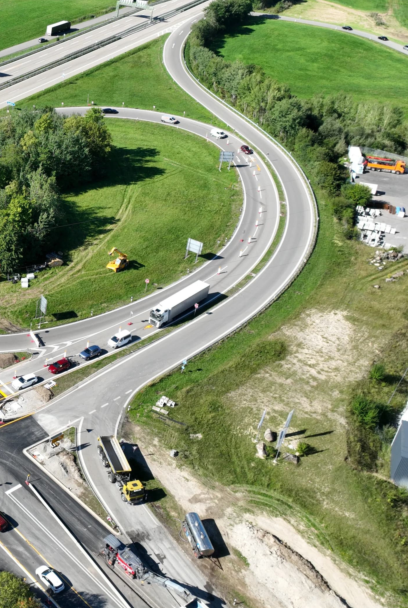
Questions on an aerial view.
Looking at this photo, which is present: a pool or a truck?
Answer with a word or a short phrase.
truck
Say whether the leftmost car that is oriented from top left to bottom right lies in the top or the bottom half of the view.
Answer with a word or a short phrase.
bottom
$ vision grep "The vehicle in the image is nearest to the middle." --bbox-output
[154,280,219,327]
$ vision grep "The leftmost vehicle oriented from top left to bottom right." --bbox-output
[34,564,68,595]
